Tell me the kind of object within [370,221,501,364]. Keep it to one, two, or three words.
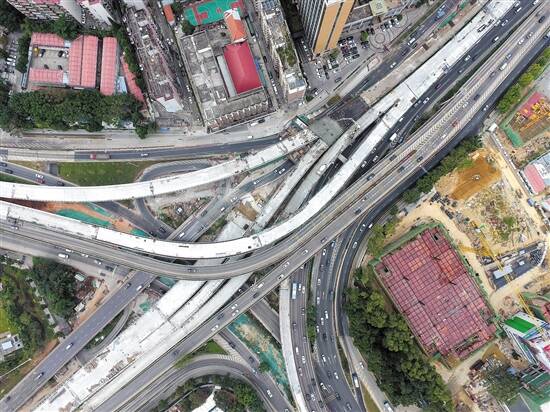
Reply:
building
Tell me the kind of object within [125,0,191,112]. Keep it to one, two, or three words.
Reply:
building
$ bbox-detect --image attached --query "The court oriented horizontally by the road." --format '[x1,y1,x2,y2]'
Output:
[180,0,248,27]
